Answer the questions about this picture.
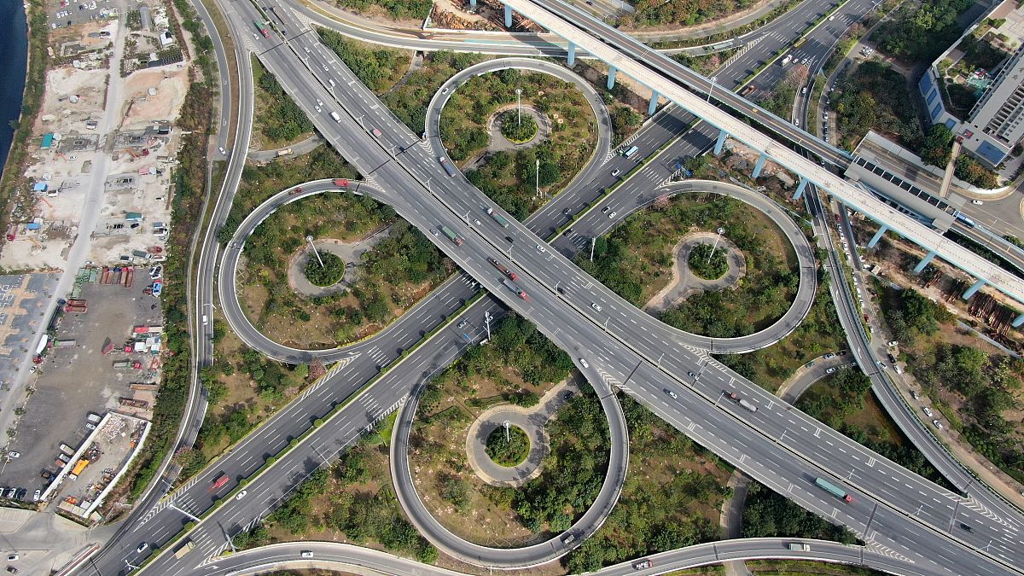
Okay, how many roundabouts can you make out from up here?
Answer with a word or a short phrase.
0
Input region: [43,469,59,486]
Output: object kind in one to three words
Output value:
vehicle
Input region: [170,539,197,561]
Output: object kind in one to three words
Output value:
truck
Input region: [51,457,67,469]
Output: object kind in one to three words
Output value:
vehicle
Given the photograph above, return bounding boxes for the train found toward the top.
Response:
[952,211,973,233]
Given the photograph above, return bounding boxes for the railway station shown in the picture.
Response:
[834,149,967,253]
